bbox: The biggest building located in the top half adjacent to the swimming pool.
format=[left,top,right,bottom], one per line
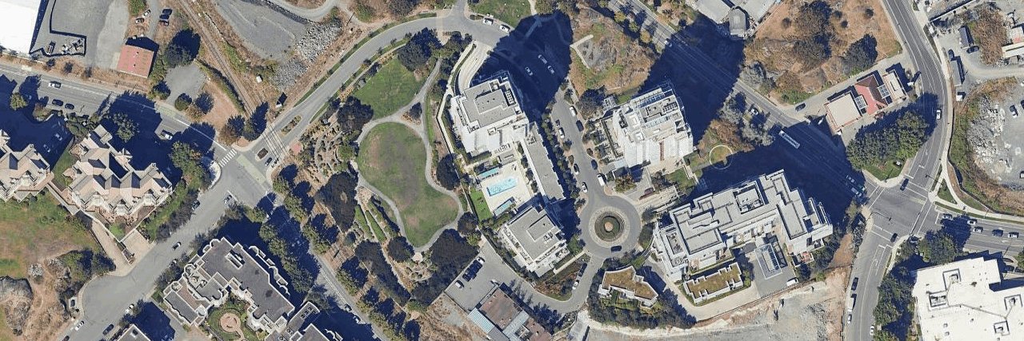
[451,74,529,160]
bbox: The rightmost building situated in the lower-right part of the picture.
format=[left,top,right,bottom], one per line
[912,257,1024,341]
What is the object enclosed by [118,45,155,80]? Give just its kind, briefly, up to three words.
shed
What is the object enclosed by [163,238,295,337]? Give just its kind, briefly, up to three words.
building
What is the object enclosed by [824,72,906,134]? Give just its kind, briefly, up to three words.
building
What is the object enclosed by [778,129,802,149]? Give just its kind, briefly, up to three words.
bus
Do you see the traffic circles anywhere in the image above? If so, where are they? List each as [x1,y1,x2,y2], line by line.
[576,194,642,258]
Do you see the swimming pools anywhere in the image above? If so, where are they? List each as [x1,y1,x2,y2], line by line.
[480,161,533,215]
